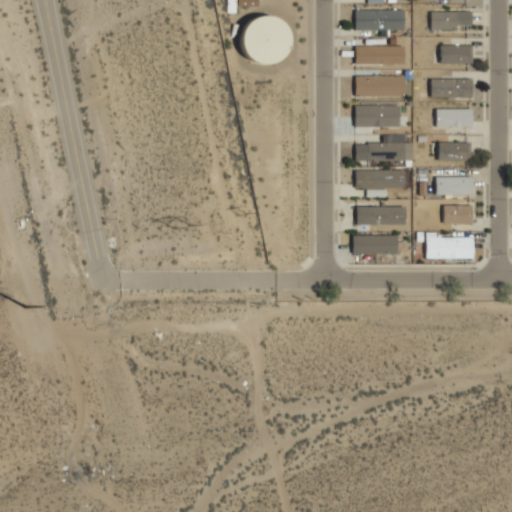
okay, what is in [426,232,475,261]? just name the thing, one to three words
house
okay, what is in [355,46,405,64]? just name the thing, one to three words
house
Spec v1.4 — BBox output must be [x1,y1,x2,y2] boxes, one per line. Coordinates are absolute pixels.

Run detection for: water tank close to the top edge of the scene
[240,14,293,66]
